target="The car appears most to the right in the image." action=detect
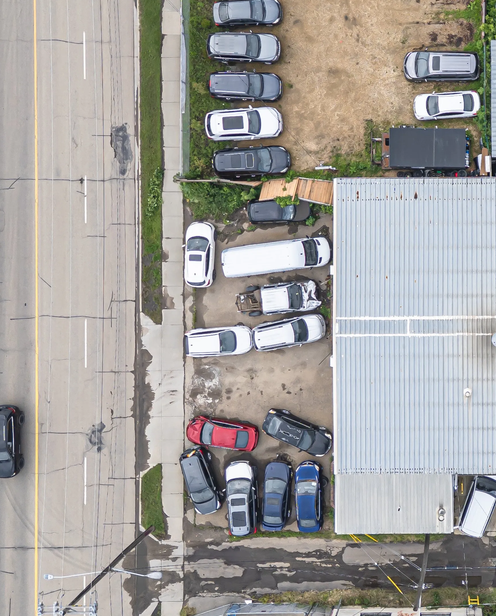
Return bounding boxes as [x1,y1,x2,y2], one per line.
[456,475,496,545]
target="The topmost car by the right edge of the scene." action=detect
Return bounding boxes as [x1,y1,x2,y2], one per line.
[405,47,478,83]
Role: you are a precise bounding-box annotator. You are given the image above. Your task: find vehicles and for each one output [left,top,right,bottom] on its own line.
[291,458,326,532]
[220,234,333,276]
[260,458,294,531]
[182,324,254,361]
[252,315,328,353]
[456,475,496,545]
[246,198,312,231]
[212,143,292,179]
[239,280,325,314]
[262,406,333,457]
[405,47,478,83]
[223,458,260,536]
[188,415,261,450]
[213,0,284,28]
[414,88,481,123]
[181,221,216,288]
[175,444,225,514]
[205,105,284,141]
[206,29,283,64]
[0,404,25,477]
[207,68,284,104]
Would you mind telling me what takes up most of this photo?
paved ground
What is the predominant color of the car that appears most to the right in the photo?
white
